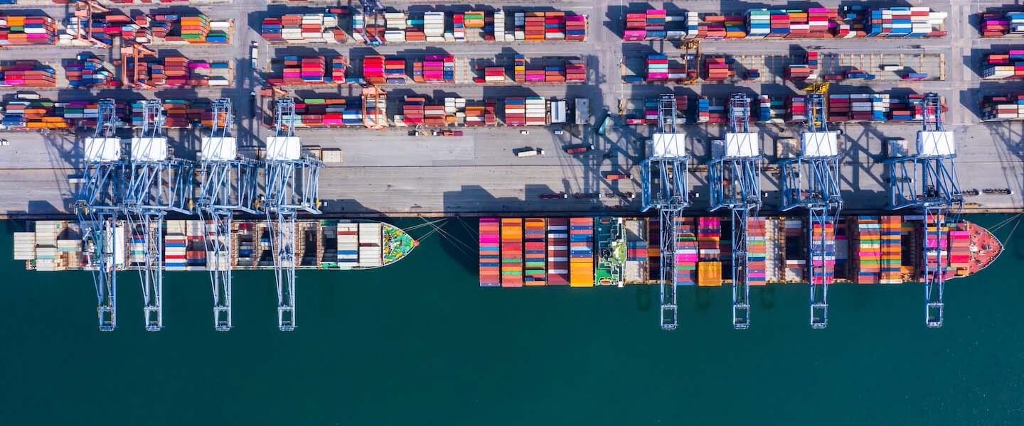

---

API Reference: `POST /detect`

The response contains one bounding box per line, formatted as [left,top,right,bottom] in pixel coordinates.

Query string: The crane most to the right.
[873,90,967,326]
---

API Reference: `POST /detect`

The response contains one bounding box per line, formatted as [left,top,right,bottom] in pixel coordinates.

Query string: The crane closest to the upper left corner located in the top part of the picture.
[73,0,111,50]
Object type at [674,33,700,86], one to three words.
crane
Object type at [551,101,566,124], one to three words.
shed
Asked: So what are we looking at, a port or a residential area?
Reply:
port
